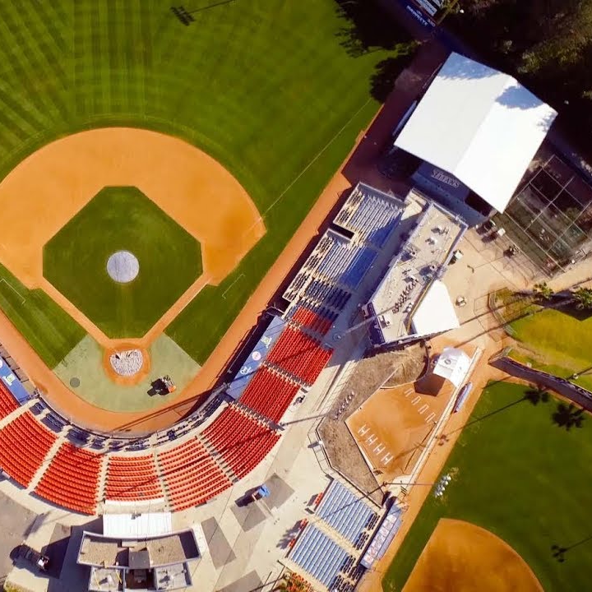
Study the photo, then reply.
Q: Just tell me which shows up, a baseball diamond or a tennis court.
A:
baseball diamond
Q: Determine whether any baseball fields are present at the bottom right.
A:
Yes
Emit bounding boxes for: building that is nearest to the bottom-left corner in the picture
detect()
[76,526,202,592]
